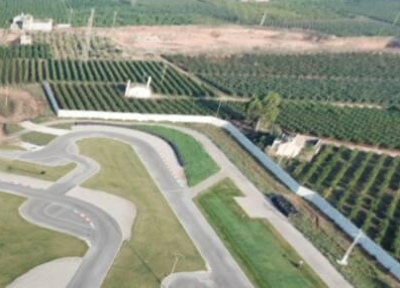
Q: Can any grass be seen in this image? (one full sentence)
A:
Yes, some grass is visible.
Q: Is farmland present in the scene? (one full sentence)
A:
Yes, the picture does contain farmland.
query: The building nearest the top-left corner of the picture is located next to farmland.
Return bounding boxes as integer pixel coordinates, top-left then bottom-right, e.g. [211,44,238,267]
[12,13,30,31]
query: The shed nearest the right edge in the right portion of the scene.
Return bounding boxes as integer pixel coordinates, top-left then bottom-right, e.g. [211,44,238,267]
[271,124,322,158]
